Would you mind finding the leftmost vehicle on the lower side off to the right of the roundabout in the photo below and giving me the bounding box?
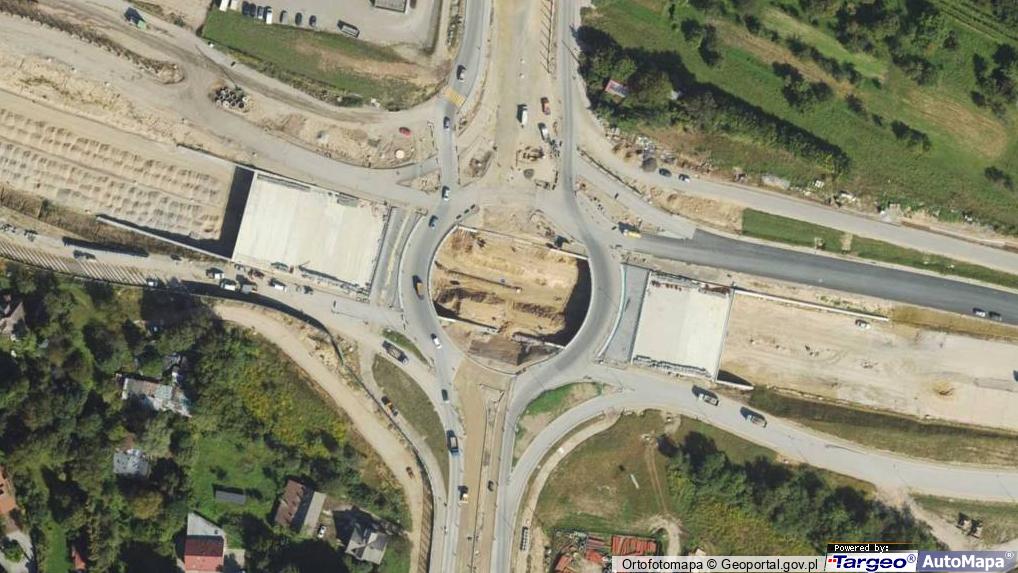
[698,393,720,406]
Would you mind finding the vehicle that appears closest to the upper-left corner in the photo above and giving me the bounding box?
[125,13,145,31]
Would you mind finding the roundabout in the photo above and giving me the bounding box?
[398,187,622,403]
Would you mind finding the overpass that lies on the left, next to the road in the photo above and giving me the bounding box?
[233,172,388,292]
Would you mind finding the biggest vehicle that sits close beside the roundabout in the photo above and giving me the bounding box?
[385,344,408,363]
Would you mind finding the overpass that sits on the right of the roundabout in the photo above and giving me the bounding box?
[633,273,735,378]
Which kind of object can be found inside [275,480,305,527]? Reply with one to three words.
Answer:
barn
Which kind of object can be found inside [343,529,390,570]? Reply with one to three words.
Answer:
house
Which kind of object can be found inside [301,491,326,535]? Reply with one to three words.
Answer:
shed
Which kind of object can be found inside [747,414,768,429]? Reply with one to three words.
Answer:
vehicle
